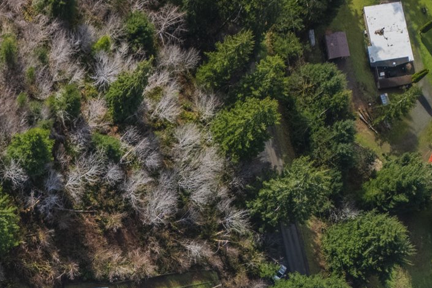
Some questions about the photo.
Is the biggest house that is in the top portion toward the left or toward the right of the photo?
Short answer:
right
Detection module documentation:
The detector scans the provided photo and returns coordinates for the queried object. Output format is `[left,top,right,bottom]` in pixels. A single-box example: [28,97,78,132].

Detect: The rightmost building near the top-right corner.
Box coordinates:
[358,1,412,91]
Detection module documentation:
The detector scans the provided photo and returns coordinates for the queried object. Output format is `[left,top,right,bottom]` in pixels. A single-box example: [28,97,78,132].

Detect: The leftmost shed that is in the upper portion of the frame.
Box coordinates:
[323,32,349,61]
